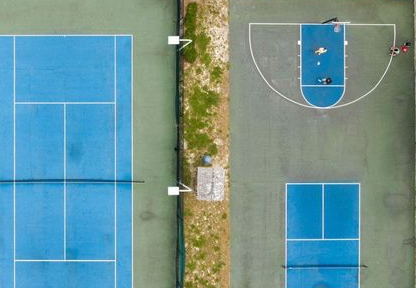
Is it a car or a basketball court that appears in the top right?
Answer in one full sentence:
The one visible in the top right is a basketball court.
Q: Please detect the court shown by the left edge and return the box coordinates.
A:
[0,34,133,288]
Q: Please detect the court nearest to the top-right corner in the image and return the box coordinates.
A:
[249,23,396,108]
